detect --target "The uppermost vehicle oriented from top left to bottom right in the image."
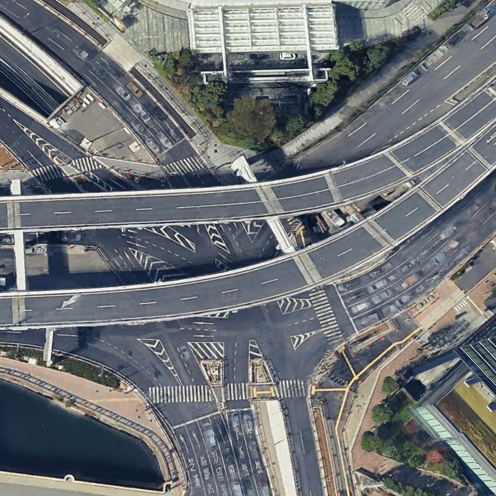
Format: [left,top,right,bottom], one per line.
[107,10,129,35]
